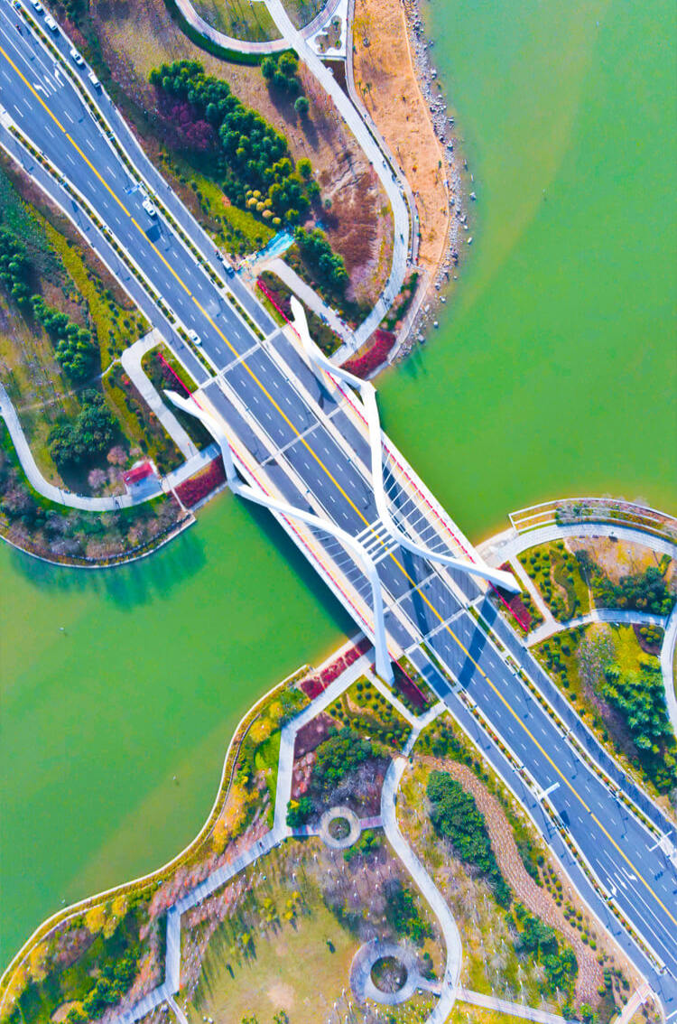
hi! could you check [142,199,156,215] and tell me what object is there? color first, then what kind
white car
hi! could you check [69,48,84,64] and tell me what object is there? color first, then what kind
white car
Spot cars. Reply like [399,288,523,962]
[86,71,101,87]
[69,48,84,64]
[30,0,44,13]
[187,328,201,344]
[142,199,156,215]
[43,15,57,31]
